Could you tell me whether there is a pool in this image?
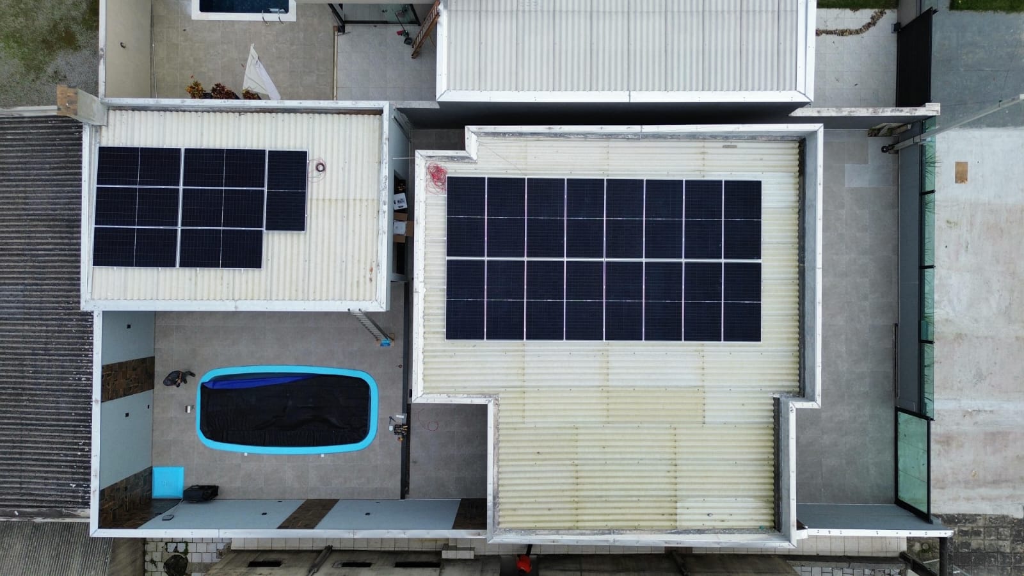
Yes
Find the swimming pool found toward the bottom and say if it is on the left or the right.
left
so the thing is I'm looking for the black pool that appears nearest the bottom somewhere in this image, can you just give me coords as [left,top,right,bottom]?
[197,364,379,455]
